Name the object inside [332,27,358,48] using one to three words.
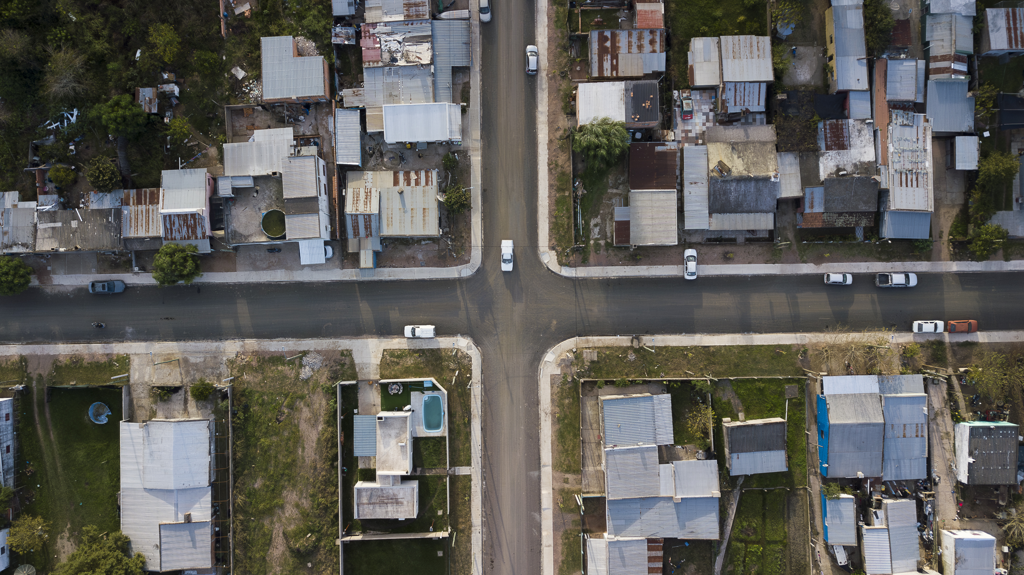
shed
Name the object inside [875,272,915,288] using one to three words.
vehicle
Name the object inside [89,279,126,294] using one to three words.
car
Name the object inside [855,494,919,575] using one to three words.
house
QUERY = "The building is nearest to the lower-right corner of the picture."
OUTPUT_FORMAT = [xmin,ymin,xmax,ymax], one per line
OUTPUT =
[941,530,997,575]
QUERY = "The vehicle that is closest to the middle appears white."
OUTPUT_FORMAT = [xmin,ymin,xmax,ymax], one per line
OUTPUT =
[500,239,513,272]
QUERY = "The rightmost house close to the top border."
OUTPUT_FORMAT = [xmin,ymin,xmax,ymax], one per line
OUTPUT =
[974,8,1024,56]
